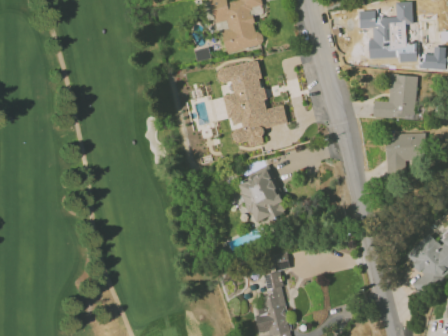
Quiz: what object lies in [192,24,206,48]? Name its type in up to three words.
swimming pool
